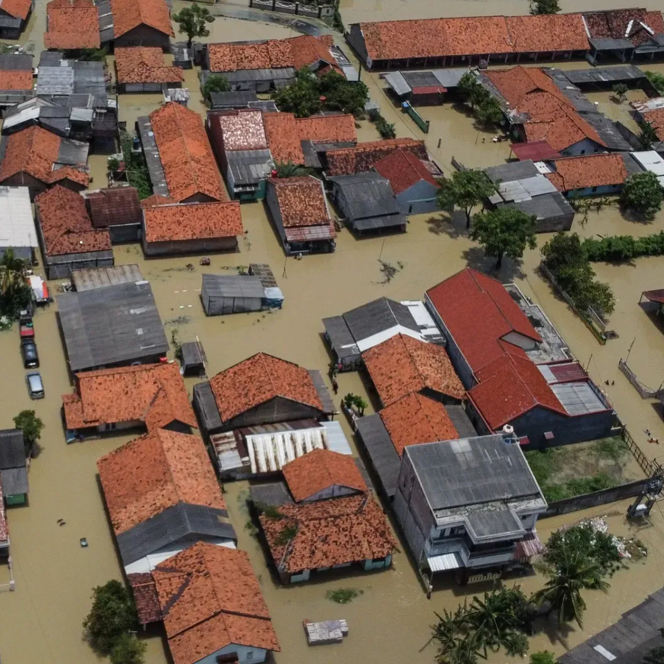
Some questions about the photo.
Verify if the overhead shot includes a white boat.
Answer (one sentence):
No, there appears to be no white boat in this shot.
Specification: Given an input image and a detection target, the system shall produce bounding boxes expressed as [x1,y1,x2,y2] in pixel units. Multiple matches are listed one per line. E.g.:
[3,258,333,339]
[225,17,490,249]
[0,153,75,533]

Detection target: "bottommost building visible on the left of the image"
[127,541,279,664]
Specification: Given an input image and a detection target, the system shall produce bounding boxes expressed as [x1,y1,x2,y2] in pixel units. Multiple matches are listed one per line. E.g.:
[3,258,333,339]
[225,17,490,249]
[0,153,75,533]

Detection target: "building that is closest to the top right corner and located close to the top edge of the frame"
[582,7,664,66]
